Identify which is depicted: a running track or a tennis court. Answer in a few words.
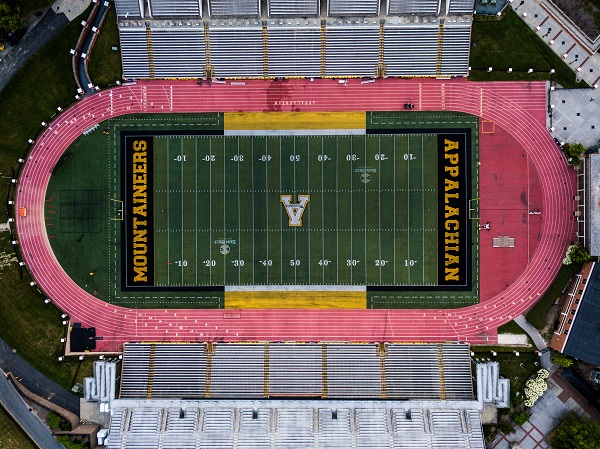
running track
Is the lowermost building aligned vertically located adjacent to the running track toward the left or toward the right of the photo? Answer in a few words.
right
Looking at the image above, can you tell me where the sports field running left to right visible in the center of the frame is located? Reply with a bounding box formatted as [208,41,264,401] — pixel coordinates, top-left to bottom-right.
[45,112,479,309]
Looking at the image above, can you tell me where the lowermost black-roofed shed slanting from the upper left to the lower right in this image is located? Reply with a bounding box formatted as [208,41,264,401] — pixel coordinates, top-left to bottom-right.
[557,362,600,409]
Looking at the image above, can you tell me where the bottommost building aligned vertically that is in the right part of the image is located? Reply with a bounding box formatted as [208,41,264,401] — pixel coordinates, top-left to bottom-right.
[551,260,600,366]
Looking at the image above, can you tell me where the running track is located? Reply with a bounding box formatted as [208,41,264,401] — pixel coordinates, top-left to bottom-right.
[16,81,578,352]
